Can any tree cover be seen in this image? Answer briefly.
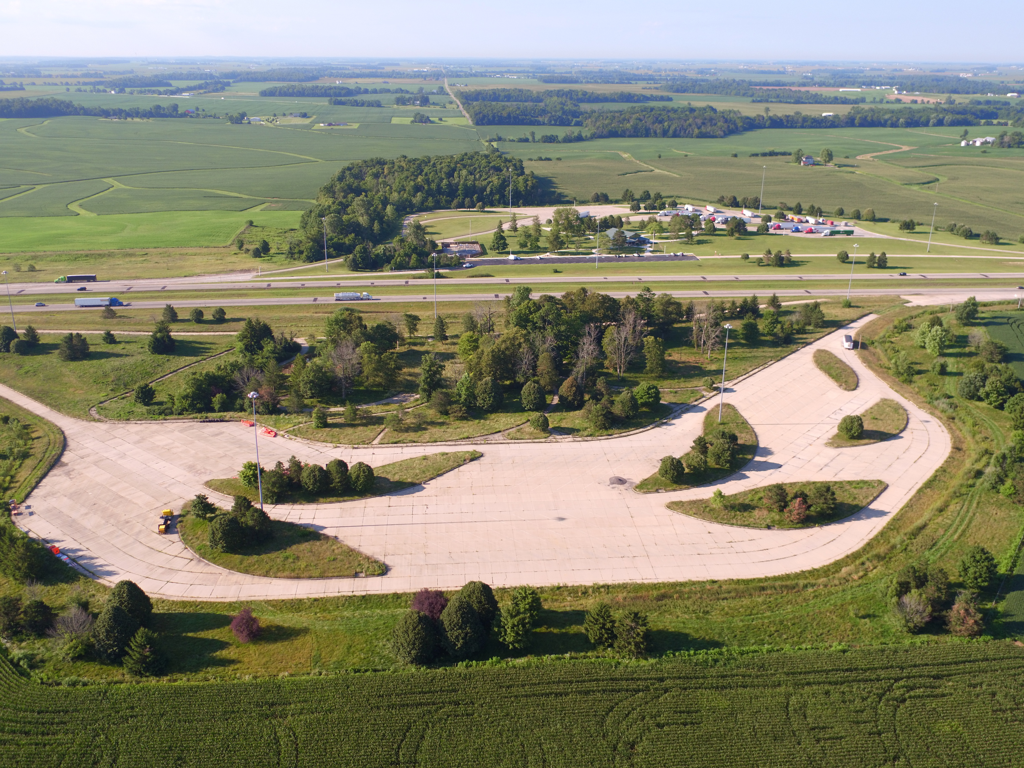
Yes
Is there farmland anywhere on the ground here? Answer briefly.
Yes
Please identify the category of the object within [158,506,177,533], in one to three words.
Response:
vehicle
